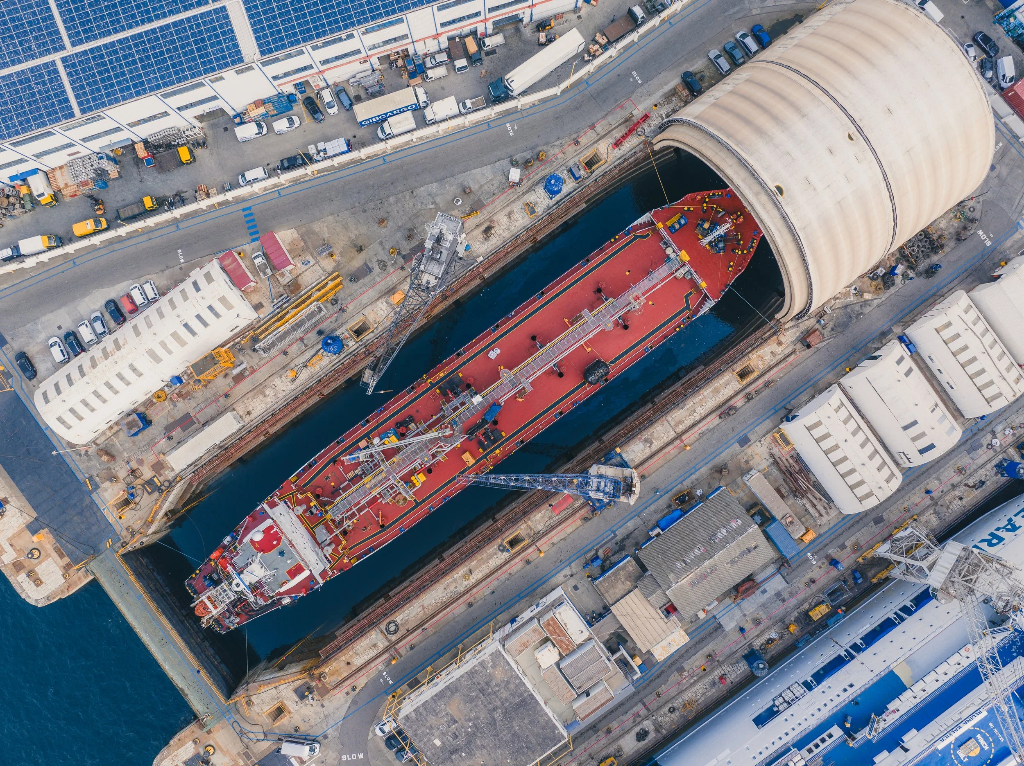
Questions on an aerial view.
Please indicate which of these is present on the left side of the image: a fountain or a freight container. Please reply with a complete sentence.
There is a freight container on the left side of the image.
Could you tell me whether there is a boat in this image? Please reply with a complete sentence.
Yes, you can see a boat in this photo.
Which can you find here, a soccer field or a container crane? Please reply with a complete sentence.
The image shows a container crane.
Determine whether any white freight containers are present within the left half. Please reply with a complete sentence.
Yes, looking within the left half, one can make out a white freight container.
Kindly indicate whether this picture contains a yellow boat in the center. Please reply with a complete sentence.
No, no yellow boat is visible in the center.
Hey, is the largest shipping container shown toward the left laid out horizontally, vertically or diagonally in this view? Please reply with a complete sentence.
The largest shipping container shown toward the left runs diagonally in the image.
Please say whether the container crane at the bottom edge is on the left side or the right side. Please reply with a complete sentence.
The container crane at the bottom edge is on the right side of the image.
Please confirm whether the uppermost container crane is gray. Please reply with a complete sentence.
Yes, gray is the color of the uppermost container crane.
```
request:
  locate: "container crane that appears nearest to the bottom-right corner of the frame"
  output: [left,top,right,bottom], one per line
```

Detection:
[853,513,1024,766]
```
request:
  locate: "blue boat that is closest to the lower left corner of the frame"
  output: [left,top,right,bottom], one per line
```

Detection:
[468,404,502,435]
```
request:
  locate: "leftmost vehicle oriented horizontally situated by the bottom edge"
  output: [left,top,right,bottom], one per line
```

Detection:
[281,733,322,754]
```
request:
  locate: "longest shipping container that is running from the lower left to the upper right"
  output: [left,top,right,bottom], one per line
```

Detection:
[166,411,247,471]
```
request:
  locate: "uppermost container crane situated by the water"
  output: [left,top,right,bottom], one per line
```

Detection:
[360,210,487,398]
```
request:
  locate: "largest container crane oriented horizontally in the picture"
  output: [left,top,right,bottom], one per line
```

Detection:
[456,446,642,520]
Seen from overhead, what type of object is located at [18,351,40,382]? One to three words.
car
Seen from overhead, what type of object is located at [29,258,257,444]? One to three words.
shed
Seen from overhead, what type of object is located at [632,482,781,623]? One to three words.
building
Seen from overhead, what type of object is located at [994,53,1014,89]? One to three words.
vehicle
